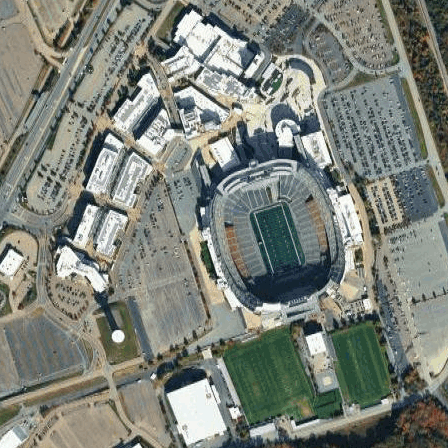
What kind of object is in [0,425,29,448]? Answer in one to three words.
building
